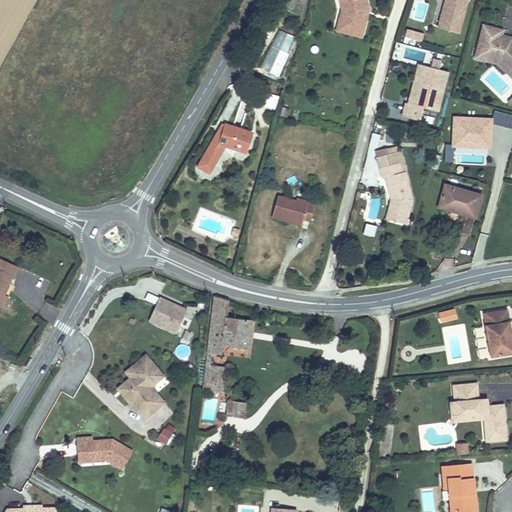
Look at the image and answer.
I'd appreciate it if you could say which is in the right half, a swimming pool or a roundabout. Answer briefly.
swimming pool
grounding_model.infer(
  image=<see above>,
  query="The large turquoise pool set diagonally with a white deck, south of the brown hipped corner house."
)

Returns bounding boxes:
[480,66,512,103]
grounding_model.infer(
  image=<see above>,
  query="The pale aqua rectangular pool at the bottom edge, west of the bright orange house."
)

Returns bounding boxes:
[420,488,442,512]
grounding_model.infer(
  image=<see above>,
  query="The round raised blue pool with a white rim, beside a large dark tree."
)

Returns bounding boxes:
[174,343,192,361]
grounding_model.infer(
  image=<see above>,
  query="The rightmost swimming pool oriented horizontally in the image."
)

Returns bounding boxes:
[454,148,488,165]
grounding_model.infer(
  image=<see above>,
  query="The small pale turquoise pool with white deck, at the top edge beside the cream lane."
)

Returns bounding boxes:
[409,0,430,22]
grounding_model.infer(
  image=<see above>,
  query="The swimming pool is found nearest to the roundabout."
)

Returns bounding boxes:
[192,207,236,242]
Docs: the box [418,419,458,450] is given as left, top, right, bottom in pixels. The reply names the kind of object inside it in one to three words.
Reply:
swimming pool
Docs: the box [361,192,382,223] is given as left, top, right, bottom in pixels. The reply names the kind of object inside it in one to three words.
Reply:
swimming pool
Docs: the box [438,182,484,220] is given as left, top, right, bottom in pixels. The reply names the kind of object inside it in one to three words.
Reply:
house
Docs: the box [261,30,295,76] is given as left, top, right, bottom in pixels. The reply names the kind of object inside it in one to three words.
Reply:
greenhouse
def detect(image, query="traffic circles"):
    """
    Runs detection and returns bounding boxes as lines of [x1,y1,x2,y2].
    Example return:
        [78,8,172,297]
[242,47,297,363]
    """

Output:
[82,206,150,272]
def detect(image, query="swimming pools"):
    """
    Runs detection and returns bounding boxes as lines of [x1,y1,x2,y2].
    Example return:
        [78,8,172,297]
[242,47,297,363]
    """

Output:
[199,396,226,429]
[238,505,260,512]
[192,207,236,242]
[454,148,488,165]
[174,343,192,361]
[392,43,433,64]
[361,192,382,223]
[420,488,442,512]
[418,419,458,450]
[409,0,430,22]
[480,66,512,103]
[442,324,471,365]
